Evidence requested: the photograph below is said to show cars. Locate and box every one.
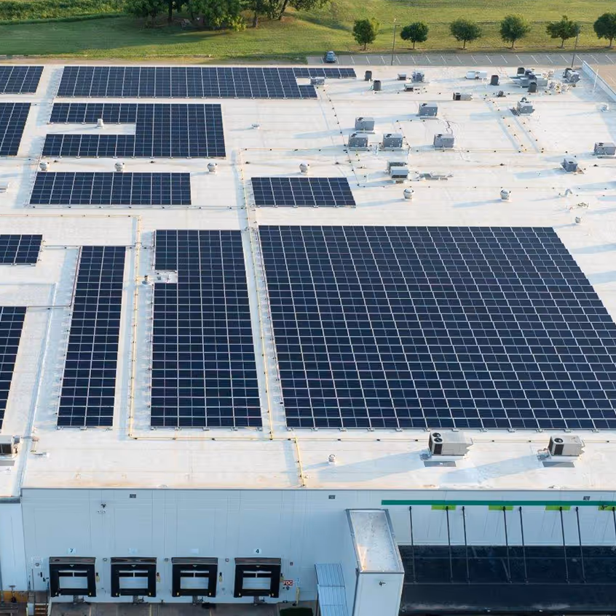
[322,48,335,61]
